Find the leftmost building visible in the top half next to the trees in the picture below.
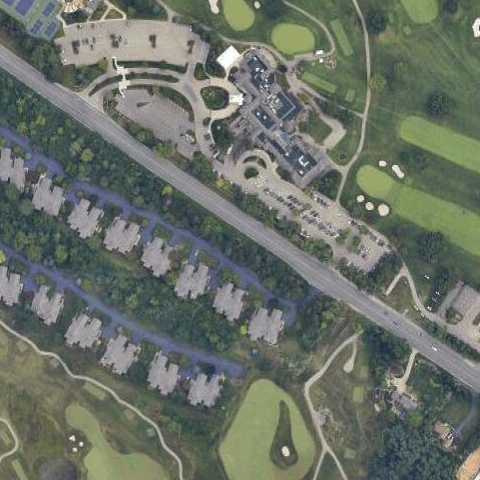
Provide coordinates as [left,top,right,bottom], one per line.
[0,150,25,189]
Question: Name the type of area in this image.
golf course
